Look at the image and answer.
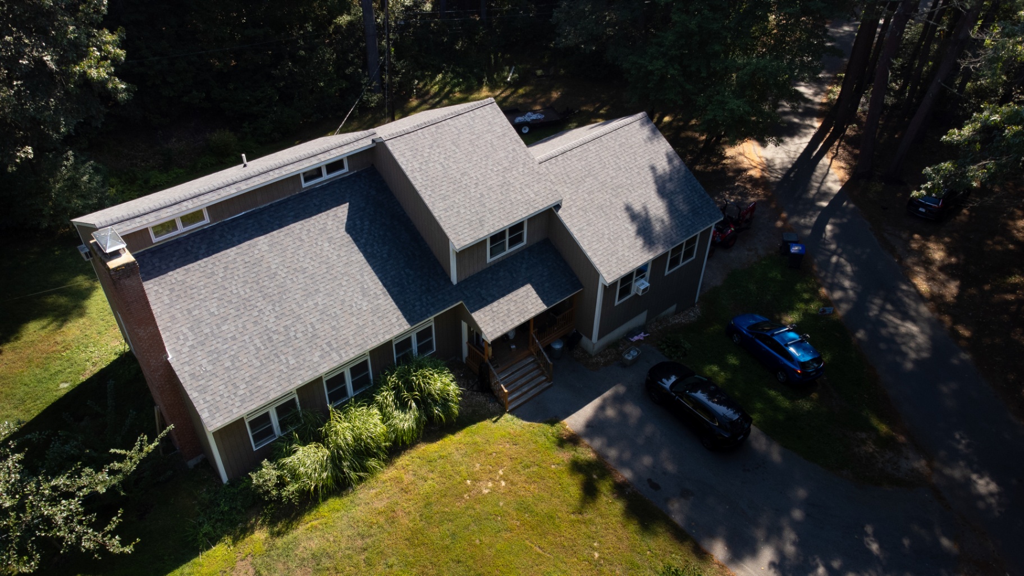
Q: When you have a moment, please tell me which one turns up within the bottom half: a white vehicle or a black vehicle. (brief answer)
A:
black vehicle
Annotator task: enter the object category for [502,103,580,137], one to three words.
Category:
trailer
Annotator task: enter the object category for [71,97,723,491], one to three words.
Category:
house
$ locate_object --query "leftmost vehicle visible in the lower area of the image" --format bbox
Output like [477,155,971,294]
[640,360,760,452]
